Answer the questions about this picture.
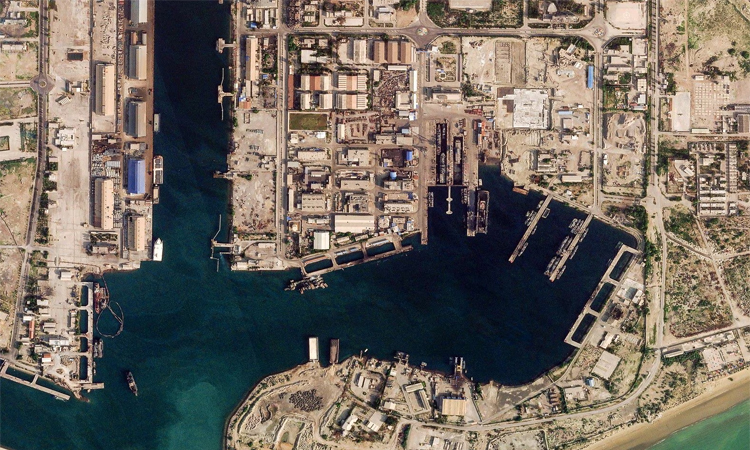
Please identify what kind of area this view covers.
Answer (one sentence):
The picture captures a port.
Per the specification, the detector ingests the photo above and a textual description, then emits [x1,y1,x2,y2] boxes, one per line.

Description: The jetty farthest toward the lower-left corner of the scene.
[0,363,70,399]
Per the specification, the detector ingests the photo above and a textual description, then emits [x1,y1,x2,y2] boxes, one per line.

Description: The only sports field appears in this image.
[289,113,328,130]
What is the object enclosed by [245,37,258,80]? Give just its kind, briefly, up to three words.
building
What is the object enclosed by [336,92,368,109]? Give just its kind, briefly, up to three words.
building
